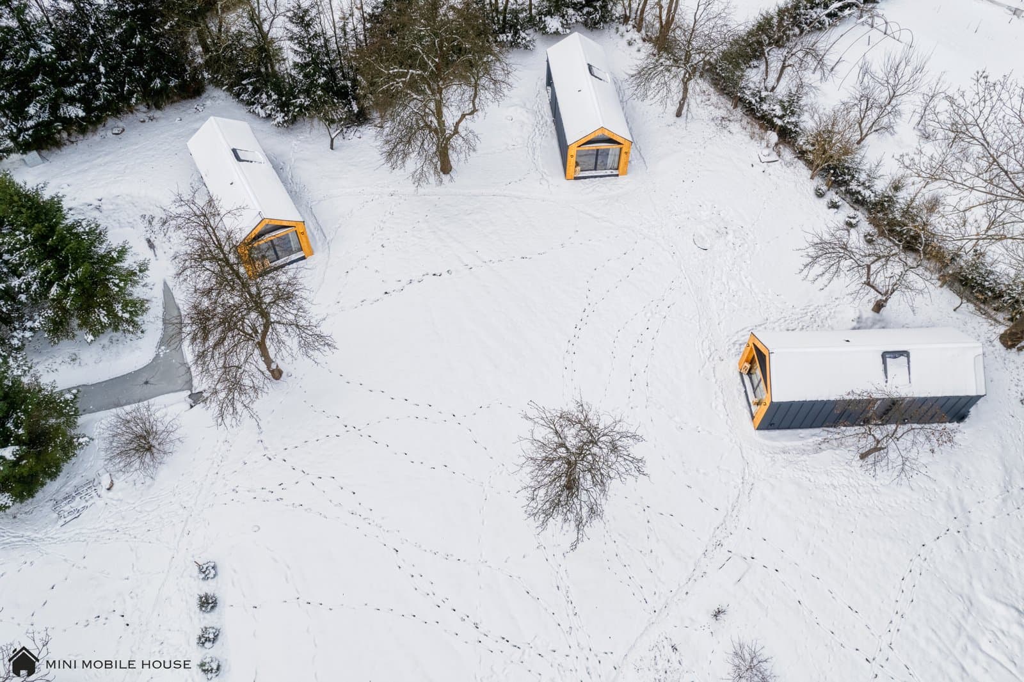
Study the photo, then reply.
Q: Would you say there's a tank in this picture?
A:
No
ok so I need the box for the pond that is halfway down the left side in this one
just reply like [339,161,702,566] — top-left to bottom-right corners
[37,284,196,420]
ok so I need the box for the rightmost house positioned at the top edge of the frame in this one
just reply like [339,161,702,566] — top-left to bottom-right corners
[544,32,632,181]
